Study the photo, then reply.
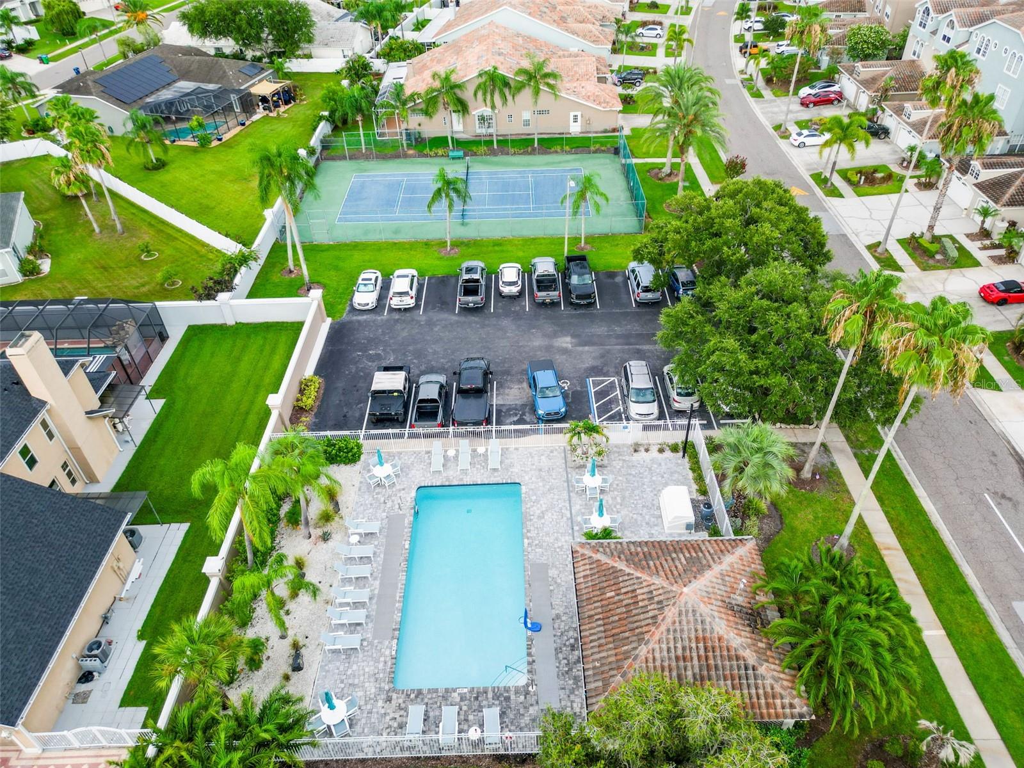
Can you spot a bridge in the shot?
No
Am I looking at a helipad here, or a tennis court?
tennis court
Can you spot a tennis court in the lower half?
No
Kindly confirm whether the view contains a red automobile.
Yes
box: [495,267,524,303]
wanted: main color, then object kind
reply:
white car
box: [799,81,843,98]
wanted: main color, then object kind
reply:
white car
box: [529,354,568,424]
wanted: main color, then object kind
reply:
blue truck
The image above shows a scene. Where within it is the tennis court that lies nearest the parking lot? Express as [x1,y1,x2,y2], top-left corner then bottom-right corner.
[301,153,643,242]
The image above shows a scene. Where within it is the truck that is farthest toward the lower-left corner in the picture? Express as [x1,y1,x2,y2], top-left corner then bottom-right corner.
[405,369,447,437]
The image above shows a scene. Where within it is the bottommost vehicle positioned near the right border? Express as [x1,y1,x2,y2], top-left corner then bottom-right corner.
[973,280,1024,309]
